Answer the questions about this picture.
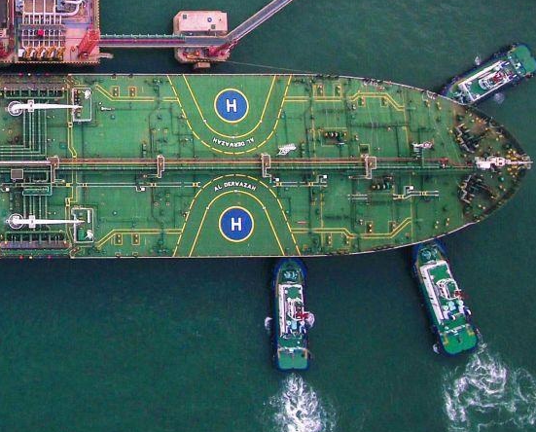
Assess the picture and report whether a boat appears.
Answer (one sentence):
Yes, this view includes a boat.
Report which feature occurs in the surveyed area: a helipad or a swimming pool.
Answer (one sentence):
The image shows a helipad.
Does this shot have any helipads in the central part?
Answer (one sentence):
Yes, a helipad shows up in the central part.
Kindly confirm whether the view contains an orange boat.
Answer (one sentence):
No, I can't see a single orange boat in this photo.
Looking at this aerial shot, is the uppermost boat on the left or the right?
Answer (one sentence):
The uppermost boat sits on the right side.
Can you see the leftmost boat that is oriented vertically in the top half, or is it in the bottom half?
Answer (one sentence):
You can find the leftmost boat that is oriented vertically in the bottom half.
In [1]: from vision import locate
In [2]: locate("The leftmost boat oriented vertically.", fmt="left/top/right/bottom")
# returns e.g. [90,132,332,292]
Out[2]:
[269,256,318,372]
